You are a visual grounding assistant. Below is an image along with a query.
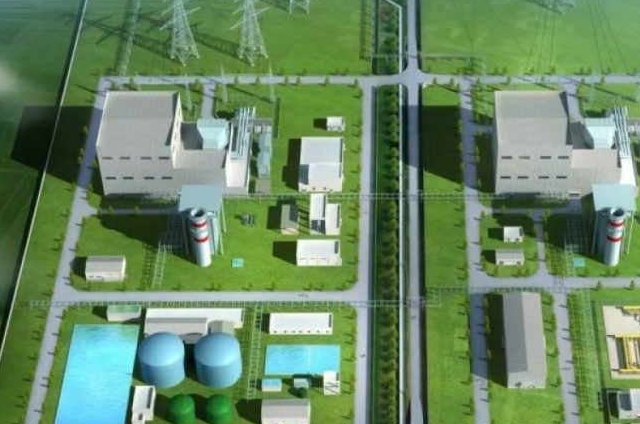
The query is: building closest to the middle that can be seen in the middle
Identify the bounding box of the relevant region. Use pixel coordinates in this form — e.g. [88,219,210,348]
[308,196,342,236]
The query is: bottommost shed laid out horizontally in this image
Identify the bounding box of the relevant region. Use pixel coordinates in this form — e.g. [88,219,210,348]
[259,400,310,424]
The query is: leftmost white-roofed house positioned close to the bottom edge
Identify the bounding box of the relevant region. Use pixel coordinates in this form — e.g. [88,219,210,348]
[131,382,157,424]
